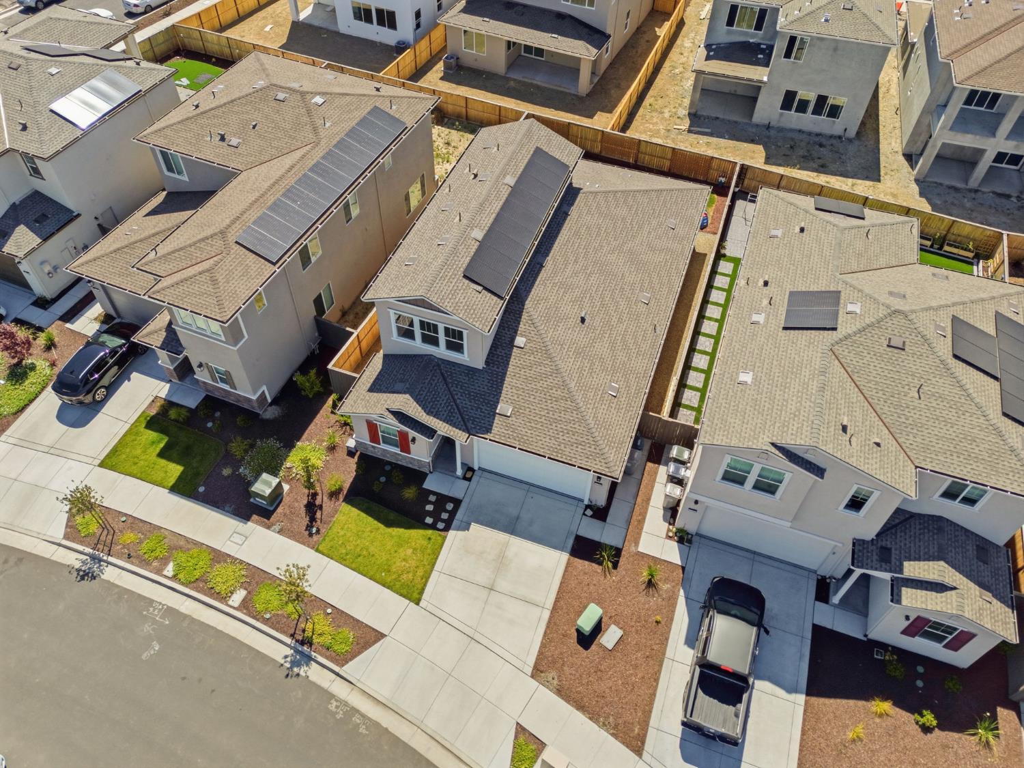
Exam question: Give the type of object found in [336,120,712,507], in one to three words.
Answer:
house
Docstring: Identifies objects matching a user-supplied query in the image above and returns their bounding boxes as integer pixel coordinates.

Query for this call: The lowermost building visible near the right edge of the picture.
[675,186,1024,669]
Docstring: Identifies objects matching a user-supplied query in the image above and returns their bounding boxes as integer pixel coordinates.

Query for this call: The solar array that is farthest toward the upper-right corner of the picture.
[815,196,866,218]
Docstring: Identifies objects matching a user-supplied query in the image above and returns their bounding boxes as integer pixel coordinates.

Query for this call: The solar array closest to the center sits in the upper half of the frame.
[460,146,571,296]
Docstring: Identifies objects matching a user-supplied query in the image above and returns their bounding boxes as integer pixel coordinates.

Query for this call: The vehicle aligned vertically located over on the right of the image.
[682,576,767,748]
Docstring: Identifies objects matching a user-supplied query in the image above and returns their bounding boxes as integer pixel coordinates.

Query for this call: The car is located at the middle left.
[51,322,147,405]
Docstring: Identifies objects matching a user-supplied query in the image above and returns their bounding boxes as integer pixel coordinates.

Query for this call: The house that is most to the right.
[894,0,1024,193]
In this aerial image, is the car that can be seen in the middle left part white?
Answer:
No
